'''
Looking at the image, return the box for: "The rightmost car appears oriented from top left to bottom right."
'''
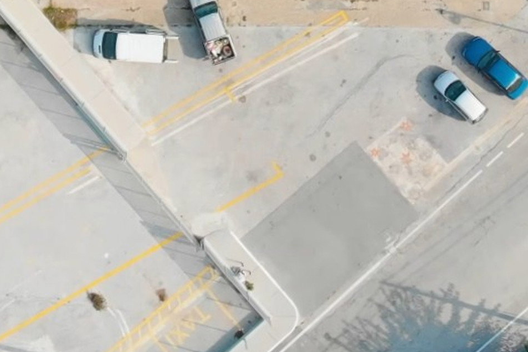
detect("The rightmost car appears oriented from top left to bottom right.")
[460,36,527,102]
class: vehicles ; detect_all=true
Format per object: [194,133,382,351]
[190,0,237,67]
[93,25,180,63]
[432,67,489,124]
[460,36,527,102]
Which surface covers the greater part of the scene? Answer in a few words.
paved ground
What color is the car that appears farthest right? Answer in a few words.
blue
